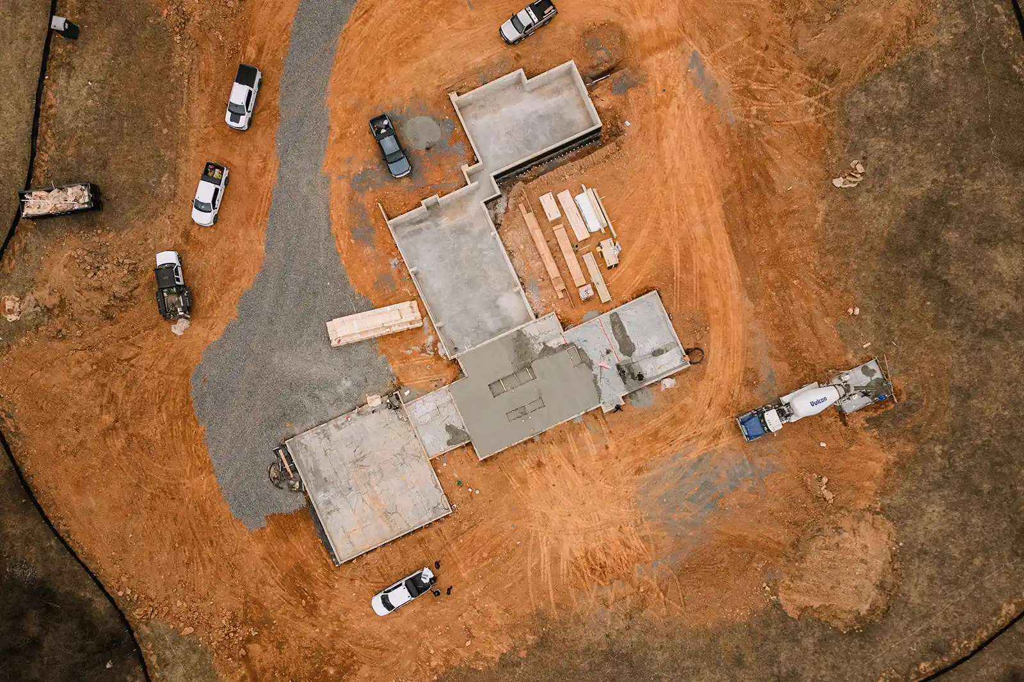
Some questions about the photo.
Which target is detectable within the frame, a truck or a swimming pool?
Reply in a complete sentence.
Of the two, only a truck appears.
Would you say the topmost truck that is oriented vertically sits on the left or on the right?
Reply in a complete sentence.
The topmost truck that is oriented vertically is on the left side of the image.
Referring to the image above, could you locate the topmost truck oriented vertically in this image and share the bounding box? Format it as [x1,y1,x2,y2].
[225,61,262,131]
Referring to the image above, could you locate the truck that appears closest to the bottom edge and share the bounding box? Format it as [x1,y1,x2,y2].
[369,564,437,617]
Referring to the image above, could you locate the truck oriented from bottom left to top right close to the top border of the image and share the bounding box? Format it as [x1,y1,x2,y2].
[499,0,561,46]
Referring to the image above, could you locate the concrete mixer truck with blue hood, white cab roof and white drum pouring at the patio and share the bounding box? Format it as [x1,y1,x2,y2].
[738,377,861,443]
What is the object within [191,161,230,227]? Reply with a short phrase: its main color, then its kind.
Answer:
white truck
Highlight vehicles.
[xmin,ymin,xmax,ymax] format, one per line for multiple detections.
[738,377,861,443]
[499,0,561,46]
[151,254,194,321]
[367,112,414,178]
[225,61,262,131]
[191,161,230,227]
[369,564,437,617]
